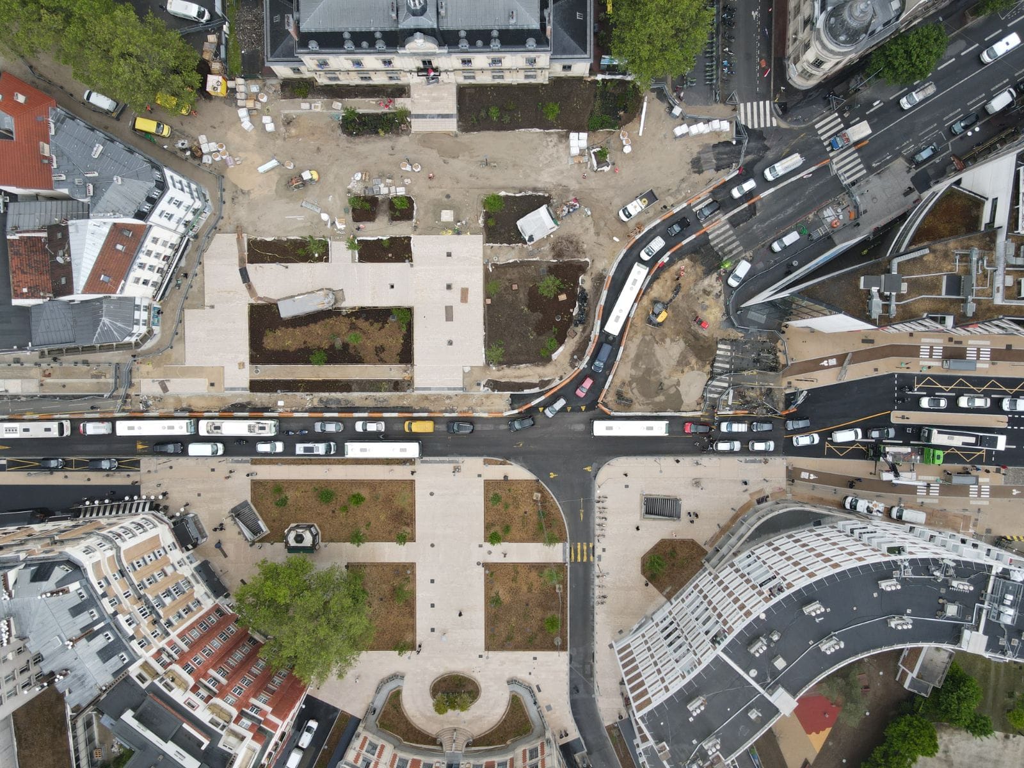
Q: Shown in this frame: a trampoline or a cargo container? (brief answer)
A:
cargo container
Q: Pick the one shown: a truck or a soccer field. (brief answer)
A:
truck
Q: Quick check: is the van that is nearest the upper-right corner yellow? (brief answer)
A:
No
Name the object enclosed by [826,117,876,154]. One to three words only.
truck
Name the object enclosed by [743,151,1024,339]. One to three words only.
building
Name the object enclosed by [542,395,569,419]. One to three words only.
car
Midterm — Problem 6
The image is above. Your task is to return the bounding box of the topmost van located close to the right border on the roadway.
[980,29,1024,62]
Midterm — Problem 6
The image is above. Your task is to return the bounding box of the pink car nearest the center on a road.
[574,374,596,398]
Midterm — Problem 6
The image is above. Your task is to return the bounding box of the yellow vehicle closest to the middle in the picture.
[404,419,435,435]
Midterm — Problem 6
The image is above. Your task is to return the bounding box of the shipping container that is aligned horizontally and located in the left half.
[278,289,338,320]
